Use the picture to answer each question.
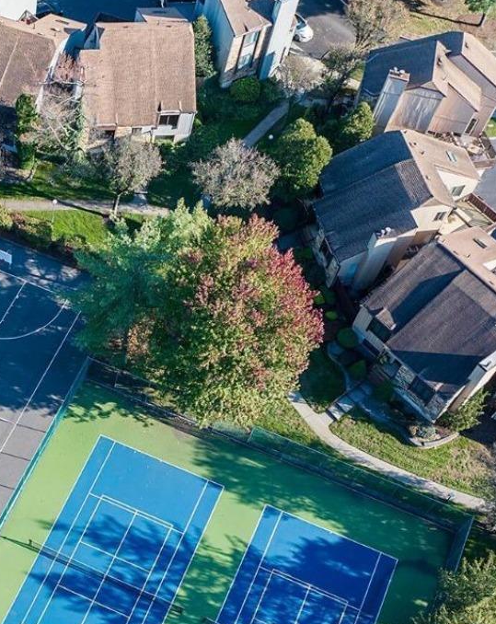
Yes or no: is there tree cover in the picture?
Yes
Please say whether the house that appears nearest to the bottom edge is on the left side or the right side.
right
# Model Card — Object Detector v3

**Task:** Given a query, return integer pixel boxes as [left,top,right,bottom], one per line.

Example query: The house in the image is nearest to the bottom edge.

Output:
[353,229,496,421]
